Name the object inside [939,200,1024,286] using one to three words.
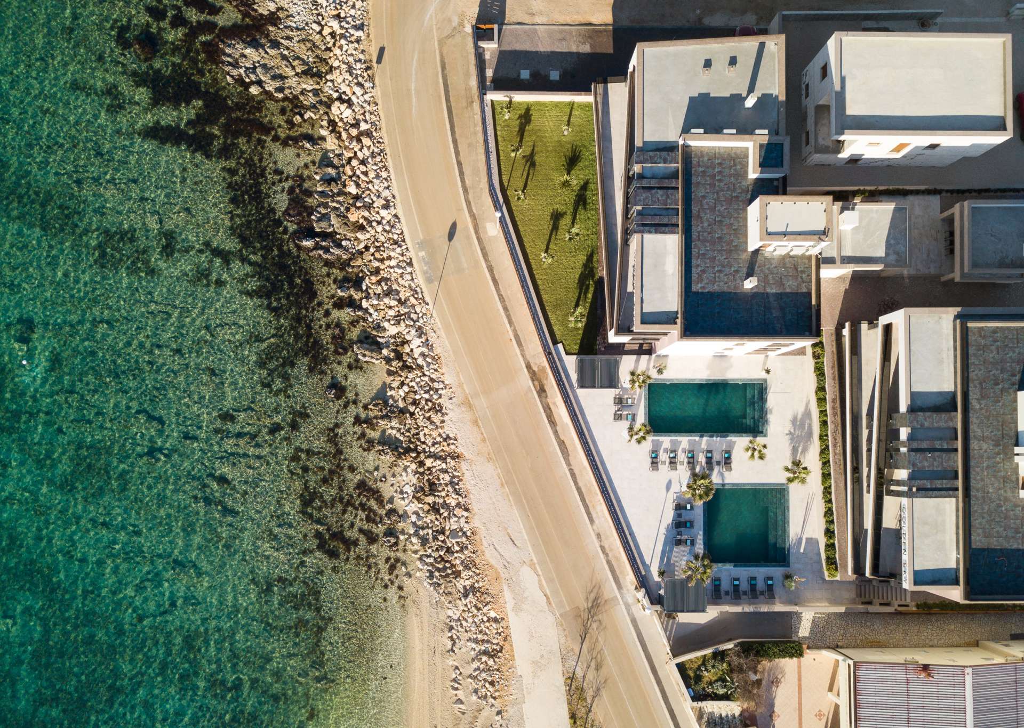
house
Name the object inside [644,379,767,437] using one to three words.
swimming pool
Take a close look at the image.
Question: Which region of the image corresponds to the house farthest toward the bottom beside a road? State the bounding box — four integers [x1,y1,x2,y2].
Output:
[835,648,1024,728]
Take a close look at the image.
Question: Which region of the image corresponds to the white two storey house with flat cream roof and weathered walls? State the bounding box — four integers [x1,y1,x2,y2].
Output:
[804,27,1013,166]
